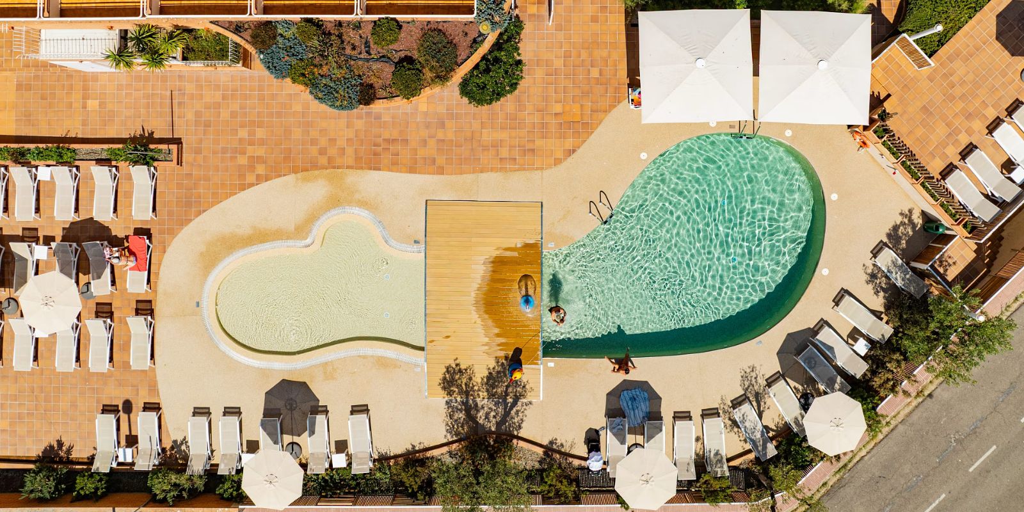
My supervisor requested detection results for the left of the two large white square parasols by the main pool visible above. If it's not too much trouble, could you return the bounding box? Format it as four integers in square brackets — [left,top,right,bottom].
[637,9,753,123]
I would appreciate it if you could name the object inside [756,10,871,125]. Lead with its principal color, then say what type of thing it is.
white umbrella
